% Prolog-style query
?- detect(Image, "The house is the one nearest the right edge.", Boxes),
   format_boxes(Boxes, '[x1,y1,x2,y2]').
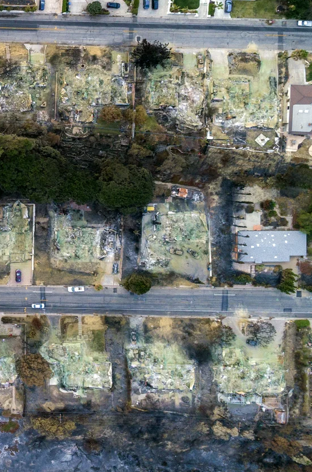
[279,84,312,134]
